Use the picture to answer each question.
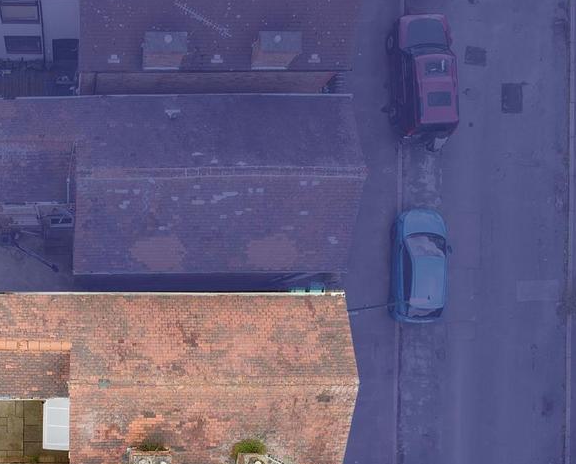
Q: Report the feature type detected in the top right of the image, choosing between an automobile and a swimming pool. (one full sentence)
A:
Visible in the top right of the image is an automobile.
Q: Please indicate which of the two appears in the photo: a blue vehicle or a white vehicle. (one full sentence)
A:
There is a blue vehicle in the scene.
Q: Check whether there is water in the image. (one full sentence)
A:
No, there's no water in this view.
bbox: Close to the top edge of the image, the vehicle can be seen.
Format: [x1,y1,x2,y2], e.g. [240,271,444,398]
[389,15,458,137]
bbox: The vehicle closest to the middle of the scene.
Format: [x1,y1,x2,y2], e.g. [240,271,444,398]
[390,210,453,323]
